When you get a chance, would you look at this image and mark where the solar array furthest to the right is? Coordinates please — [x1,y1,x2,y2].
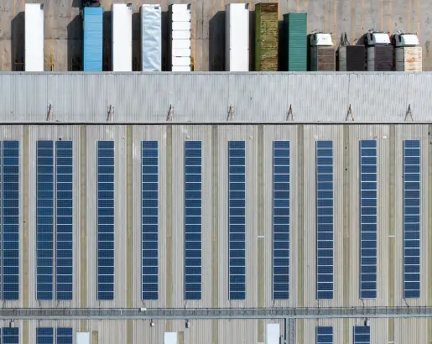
[404,140,423,299]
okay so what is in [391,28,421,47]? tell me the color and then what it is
white vehicle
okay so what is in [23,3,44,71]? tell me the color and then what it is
white trailer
